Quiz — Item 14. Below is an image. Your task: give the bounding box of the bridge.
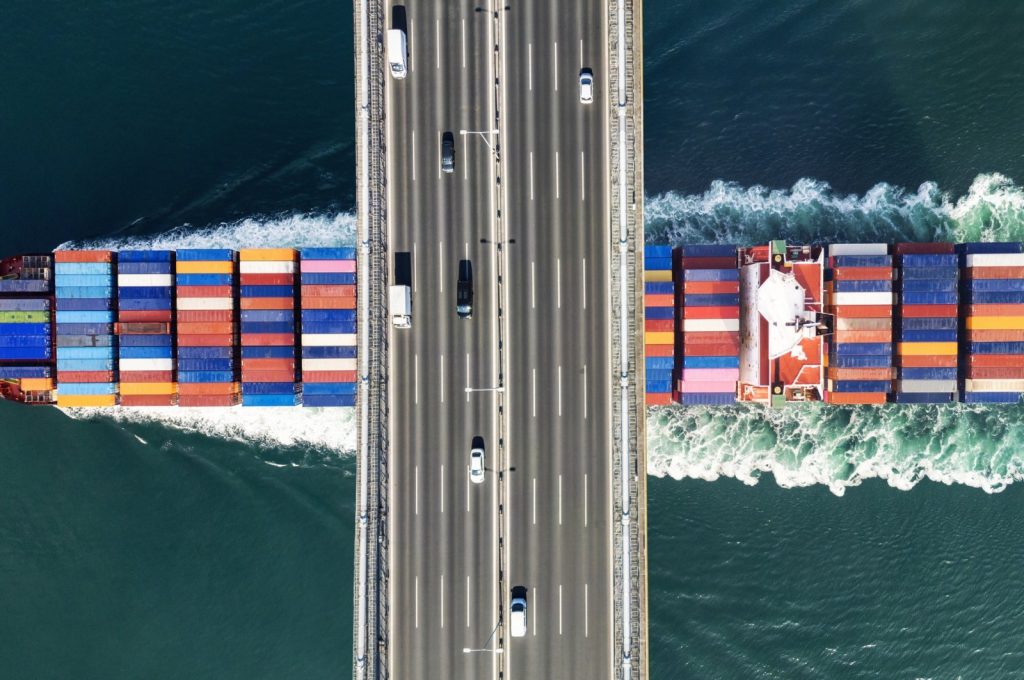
[356,0,647,680]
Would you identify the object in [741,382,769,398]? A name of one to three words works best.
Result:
boat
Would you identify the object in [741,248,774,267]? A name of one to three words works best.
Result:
boat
